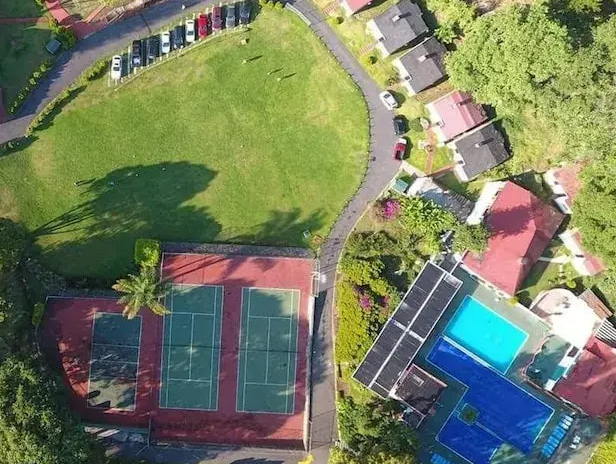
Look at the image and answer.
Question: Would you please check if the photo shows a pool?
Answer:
Yes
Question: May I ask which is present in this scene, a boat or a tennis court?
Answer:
tennis court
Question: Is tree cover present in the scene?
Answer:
Yes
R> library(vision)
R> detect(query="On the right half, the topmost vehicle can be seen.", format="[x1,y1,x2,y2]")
[377,88,398,112]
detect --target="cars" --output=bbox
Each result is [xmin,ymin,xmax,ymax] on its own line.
[238,1,251,26]
[160,32,171,54]
[173,24,185,51]
[111,55,122,80]
[393,115,405,137]
[198,15,208,39]
[225,5,236,30]
[185,19,195,43]
[377,88,398,112]
[131,41,142,65]
[146,37,158,63]
[212,6,223,31]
